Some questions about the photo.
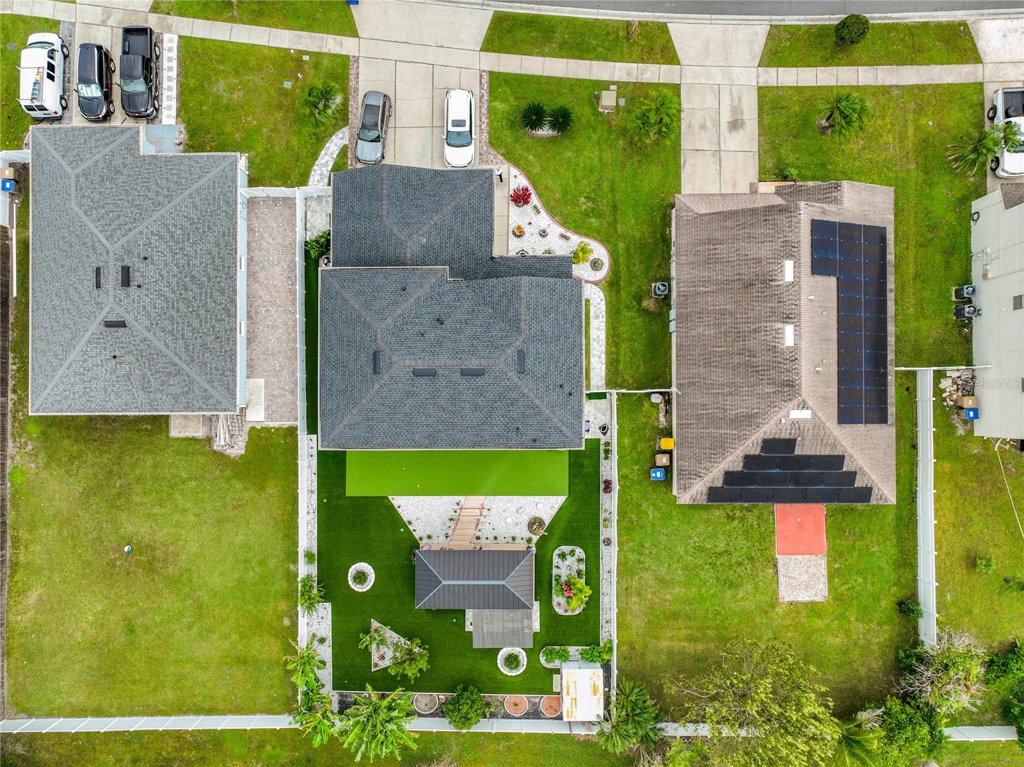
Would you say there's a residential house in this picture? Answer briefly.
Yes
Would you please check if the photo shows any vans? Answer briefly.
Yes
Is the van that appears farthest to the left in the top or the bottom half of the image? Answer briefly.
top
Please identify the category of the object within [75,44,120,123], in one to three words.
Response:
car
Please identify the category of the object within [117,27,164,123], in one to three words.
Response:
truck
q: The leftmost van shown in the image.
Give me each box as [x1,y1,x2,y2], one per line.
[14,34,71,122]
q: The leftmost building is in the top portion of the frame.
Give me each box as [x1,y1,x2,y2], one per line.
[28,123,250,417]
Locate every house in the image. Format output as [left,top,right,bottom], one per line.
[28,123,250,417]
[668,181,896,505]
[317,163,586,451]
[973,183,1024,442]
